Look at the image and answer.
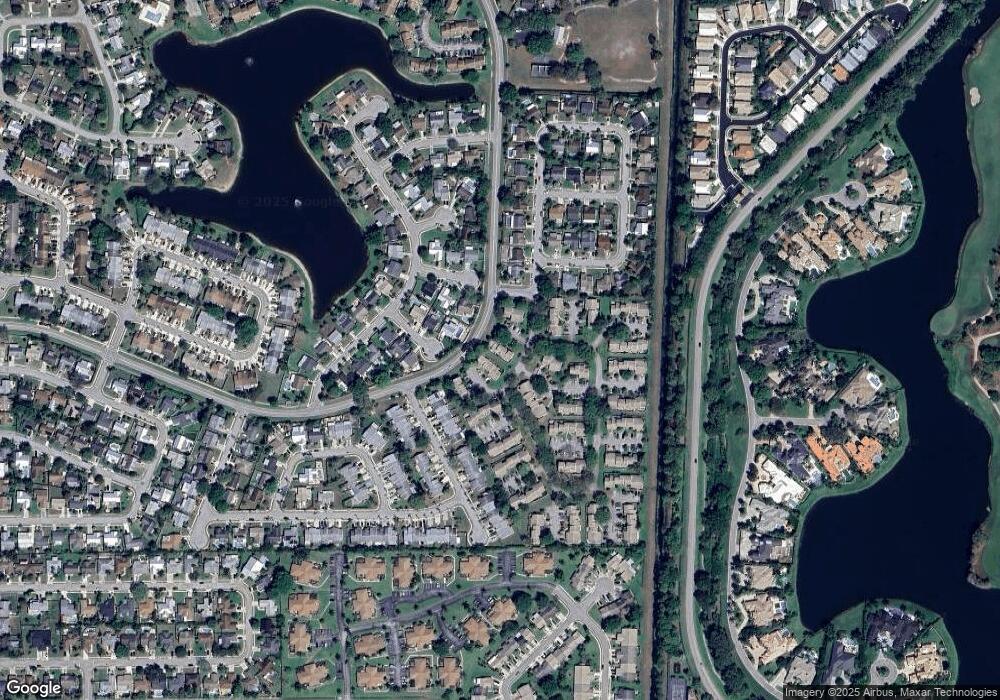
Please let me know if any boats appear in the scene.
No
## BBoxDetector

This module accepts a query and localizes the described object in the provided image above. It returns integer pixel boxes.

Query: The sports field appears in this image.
[575,0,658,80]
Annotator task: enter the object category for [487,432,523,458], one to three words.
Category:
building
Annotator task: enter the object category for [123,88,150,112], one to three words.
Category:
house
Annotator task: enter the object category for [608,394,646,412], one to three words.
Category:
building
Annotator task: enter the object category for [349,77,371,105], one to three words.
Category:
house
